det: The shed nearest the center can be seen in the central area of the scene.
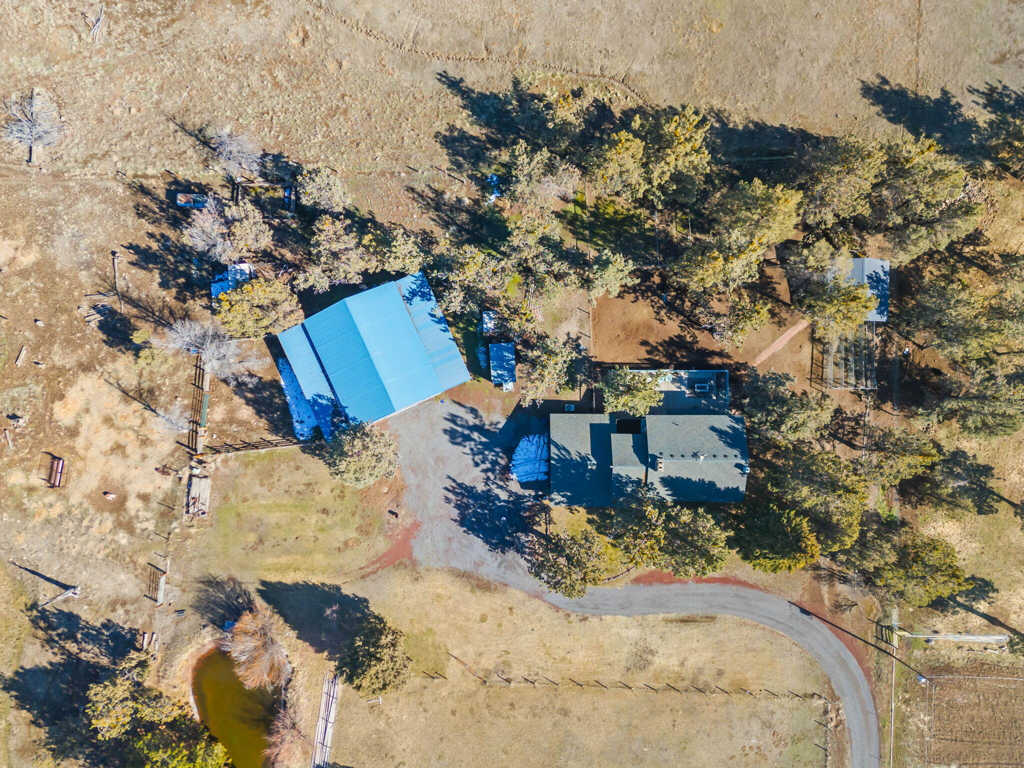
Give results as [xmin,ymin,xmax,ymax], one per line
[490,343,515,384]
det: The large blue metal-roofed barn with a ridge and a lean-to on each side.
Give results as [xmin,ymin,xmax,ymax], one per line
[278,272,471,443]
